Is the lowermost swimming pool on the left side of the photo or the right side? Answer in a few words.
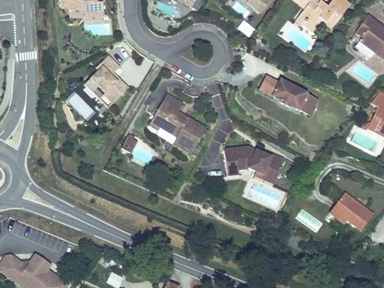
right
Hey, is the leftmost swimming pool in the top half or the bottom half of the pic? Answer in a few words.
top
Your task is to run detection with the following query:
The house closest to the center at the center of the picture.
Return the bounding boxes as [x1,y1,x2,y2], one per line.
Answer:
[150,92,208,154]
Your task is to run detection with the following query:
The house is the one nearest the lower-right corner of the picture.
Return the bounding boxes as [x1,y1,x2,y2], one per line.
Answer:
[332,192,374,232]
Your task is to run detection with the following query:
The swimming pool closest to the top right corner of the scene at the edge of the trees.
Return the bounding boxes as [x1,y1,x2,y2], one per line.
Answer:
[346,59,377,88]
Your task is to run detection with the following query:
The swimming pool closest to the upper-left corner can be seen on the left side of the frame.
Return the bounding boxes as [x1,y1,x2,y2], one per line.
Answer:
[80,12,112,36]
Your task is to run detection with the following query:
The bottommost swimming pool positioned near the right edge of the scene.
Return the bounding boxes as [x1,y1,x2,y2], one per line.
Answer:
[346,124,384,156]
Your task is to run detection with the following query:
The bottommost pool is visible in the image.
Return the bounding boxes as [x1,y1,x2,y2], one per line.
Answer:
[242,177,286,211]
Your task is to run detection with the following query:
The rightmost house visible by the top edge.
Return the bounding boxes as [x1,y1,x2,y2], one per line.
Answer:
[353,14,384,60]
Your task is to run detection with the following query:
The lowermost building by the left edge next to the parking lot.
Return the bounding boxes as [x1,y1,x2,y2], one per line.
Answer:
[0,250,69,288]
